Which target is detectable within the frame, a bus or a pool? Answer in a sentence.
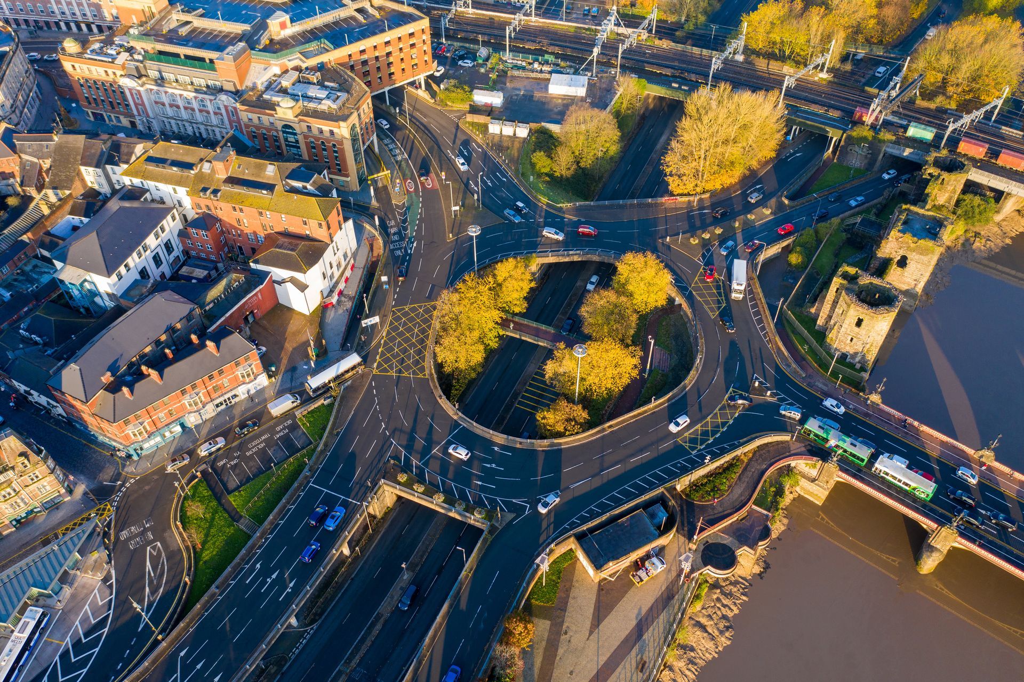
I can see a bus in this picture.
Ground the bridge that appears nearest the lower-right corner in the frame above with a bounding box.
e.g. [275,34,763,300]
[800,375,1024,582]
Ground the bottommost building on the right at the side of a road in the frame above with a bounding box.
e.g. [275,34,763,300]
[570,496,679,585]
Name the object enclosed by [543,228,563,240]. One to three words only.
vehicle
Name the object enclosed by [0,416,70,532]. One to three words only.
building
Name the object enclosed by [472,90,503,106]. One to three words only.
shed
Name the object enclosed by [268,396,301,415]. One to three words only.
vehicle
